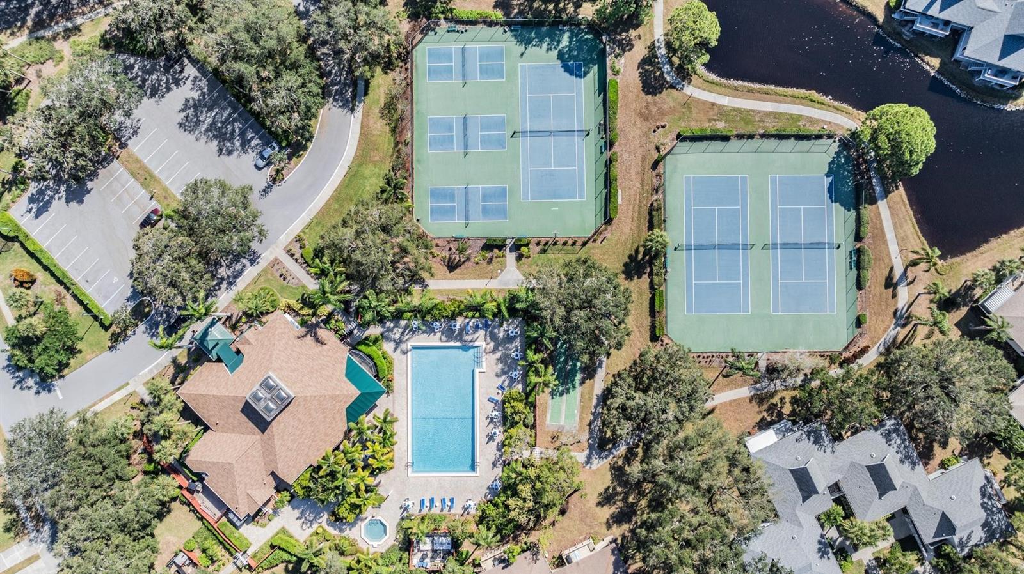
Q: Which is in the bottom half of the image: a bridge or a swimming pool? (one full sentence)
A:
The one visible in the bottom half of the image is a swimming pool.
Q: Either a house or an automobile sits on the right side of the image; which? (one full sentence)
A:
Looking on the right side of the image, you will find a house.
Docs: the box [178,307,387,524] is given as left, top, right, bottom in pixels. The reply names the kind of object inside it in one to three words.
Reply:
building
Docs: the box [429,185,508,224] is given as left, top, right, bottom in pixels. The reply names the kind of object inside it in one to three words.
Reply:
sports court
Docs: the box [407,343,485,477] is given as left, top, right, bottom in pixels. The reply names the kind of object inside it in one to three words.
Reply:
swimming pool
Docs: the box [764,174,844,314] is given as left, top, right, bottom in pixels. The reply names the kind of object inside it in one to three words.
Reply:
tennis court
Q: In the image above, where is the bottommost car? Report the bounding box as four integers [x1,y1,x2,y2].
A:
[135,205,161,230]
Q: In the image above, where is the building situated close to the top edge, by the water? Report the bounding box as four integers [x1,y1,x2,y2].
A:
[890,0,1024,90]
